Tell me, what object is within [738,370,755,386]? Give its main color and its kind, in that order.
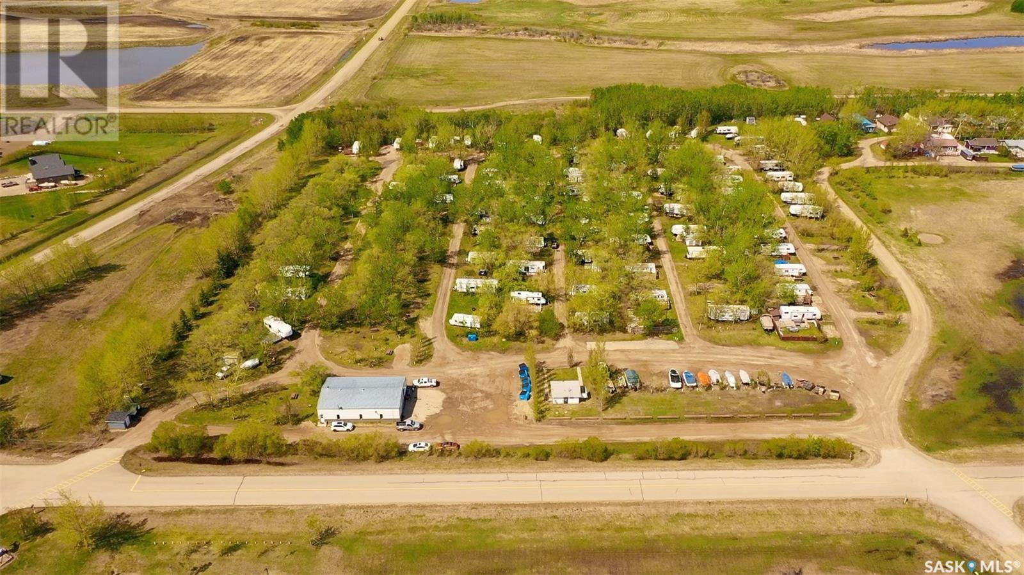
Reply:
white boat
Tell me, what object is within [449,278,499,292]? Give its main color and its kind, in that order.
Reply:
white vehicle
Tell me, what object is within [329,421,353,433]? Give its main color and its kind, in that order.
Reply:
white vehicle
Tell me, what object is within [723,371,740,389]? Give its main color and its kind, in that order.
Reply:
white boat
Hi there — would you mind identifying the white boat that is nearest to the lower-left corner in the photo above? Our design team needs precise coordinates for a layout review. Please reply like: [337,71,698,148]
[235,360,264,372]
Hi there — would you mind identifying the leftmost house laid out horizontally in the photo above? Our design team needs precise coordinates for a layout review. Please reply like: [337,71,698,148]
[30,156,88,184]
